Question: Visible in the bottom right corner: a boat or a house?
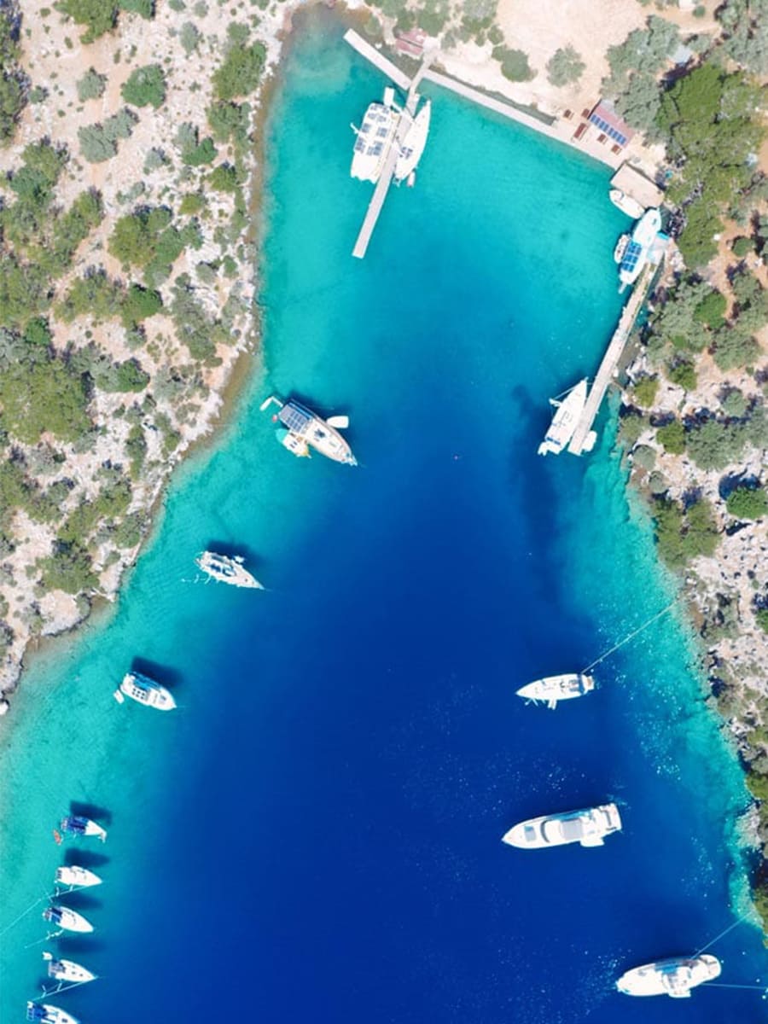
boat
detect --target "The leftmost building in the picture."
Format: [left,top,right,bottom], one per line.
[396,28,428,63]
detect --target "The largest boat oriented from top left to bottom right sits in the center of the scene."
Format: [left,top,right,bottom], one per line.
[269,398,361,467]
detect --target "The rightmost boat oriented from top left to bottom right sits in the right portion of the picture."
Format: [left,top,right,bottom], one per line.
[610,192,644,221]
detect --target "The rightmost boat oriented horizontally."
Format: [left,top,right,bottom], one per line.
[615,952,722,1000]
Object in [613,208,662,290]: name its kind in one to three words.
boat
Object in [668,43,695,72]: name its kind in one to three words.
shed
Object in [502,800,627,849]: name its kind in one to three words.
boat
